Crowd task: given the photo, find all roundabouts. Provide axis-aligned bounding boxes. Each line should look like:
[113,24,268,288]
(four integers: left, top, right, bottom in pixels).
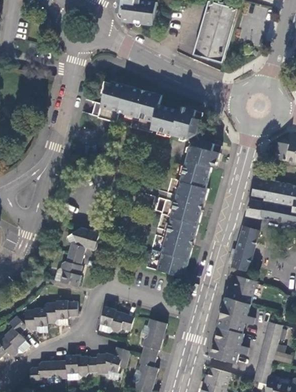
[229,74,292,136]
